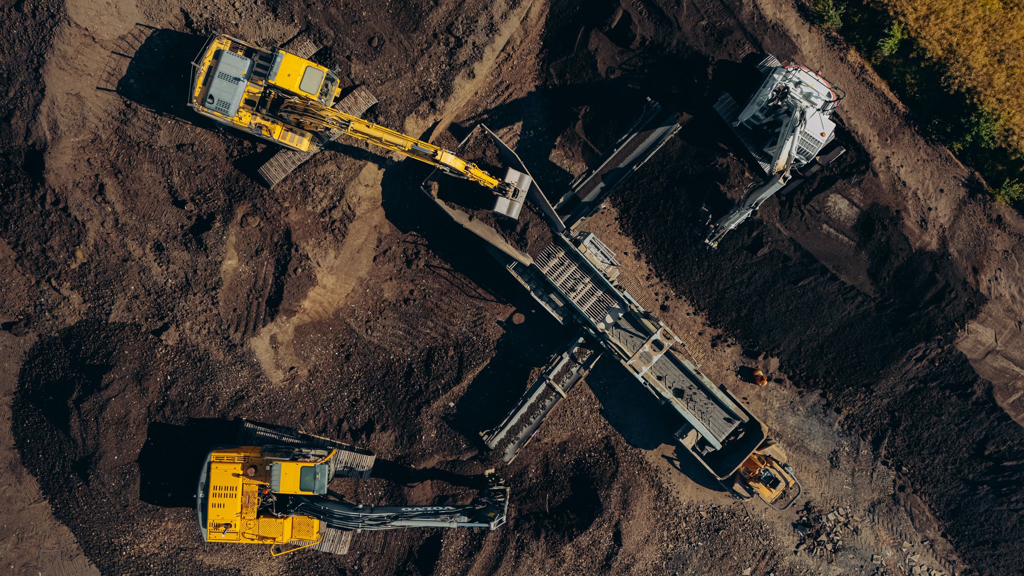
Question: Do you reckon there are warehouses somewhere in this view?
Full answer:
No, the photo shows no warehouse.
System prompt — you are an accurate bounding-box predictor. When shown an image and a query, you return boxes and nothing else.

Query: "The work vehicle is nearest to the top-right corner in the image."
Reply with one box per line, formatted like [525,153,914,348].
[696,53,848,247]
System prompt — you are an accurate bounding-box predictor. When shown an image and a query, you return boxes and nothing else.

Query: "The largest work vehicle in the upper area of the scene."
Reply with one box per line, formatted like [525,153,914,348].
[187,30,535,222]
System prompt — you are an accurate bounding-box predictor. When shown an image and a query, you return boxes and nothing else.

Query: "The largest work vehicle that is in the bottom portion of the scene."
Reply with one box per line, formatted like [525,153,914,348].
[193,417,510,556]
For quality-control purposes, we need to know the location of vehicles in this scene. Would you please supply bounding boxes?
[696,53,848,247]
[193,417,510,556]
[187,30,535,222]
[672,384,802,512]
